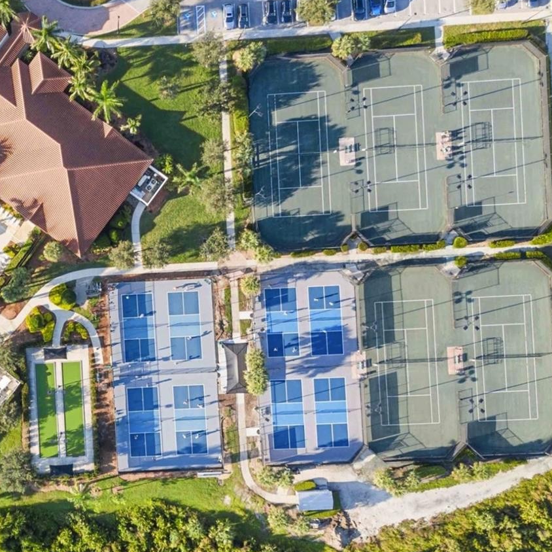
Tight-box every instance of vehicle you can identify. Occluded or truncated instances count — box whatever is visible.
[264,0,276,26]
[237,4,249,30]
[524,0,536,8]
[293,0,305,25]
[280,0,291,26]
[353,0,365,20]
[370,0,381,16]
[496,0,507,13]
[224,4,234,30]
[383,0,396,12]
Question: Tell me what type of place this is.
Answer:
sports ground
